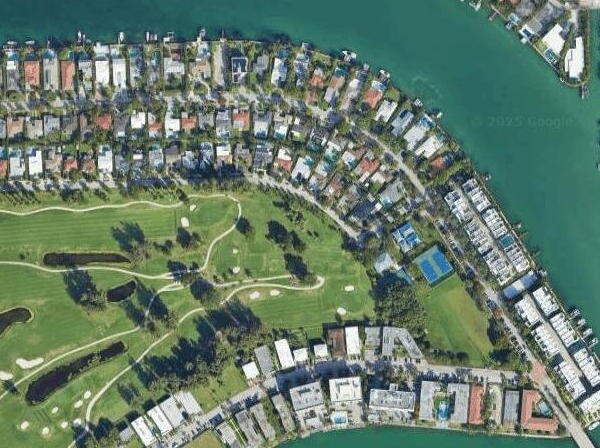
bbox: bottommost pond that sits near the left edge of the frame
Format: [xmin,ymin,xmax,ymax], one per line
[25,342,125,404]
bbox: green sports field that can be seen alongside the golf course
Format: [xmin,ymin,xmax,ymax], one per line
[417,273,493,364]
